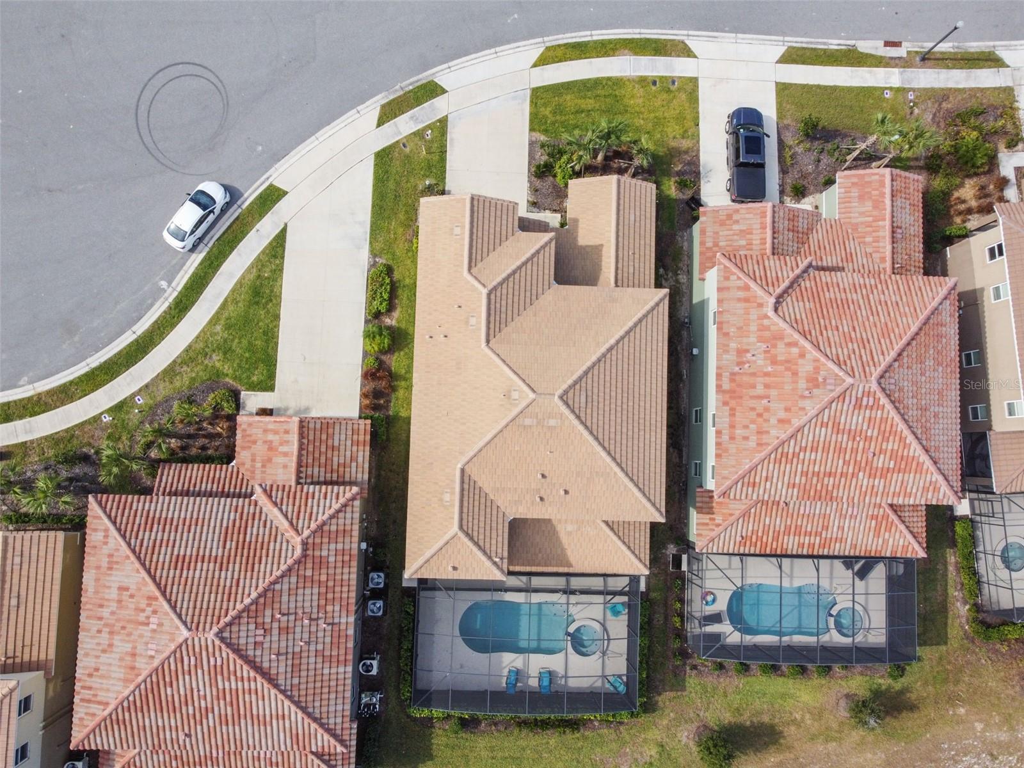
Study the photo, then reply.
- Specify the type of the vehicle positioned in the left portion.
car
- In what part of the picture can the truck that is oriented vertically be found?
top right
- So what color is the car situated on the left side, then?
white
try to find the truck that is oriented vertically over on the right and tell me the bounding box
[728,108,771,203]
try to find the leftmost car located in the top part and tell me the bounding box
[162,179,231,250]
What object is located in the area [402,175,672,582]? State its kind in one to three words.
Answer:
house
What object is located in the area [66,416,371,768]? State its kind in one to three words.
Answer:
house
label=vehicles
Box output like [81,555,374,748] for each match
[162,179,231,250]
[728,108,771,203]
